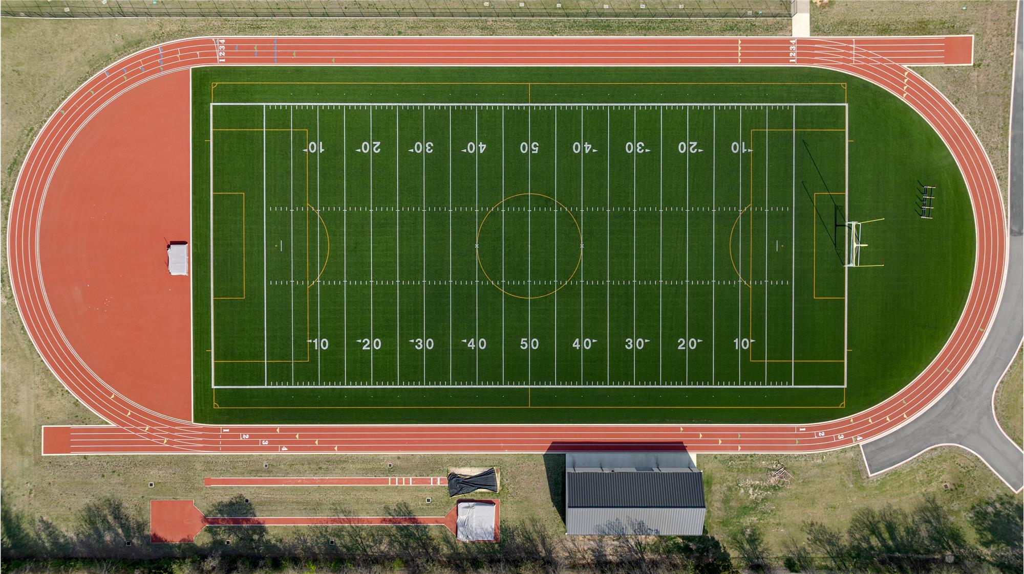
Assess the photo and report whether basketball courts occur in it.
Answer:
No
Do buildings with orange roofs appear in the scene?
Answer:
No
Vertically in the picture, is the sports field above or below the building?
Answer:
above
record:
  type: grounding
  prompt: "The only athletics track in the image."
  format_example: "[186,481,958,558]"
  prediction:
[8,34,1006,456]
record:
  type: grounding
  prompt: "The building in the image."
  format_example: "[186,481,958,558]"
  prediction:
[565,465,708,538]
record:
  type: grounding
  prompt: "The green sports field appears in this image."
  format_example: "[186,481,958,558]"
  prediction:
[192,66,975,424]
